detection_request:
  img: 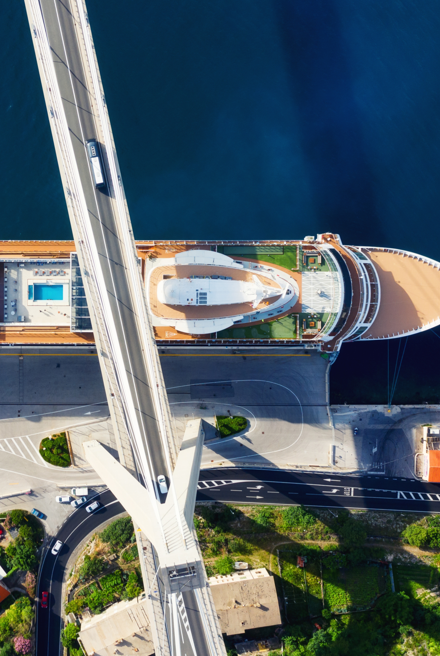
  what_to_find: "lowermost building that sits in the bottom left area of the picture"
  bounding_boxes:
[79,594,154,656]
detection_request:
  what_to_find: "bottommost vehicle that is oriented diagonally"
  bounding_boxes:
[50,539,63,554]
